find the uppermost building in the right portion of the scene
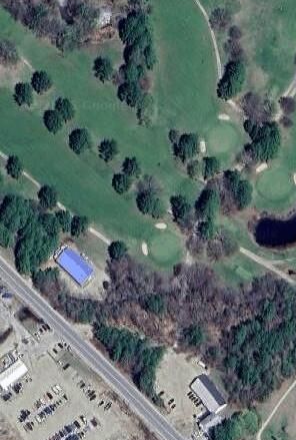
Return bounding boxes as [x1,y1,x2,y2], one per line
[188,374,229,415]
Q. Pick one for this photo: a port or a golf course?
golf course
